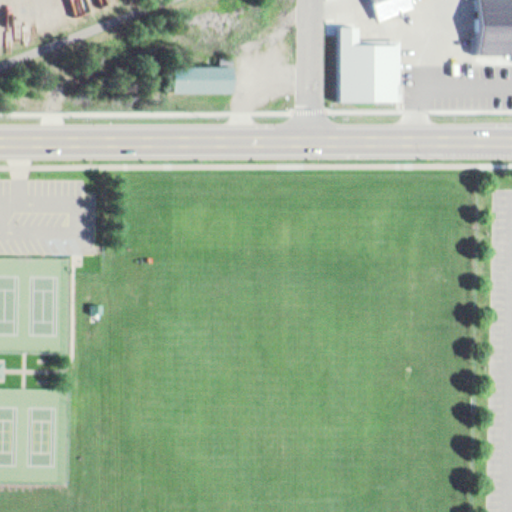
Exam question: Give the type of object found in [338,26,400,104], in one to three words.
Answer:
building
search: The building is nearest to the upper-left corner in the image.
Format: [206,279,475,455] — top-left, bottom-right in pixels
[174,66,236,94]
